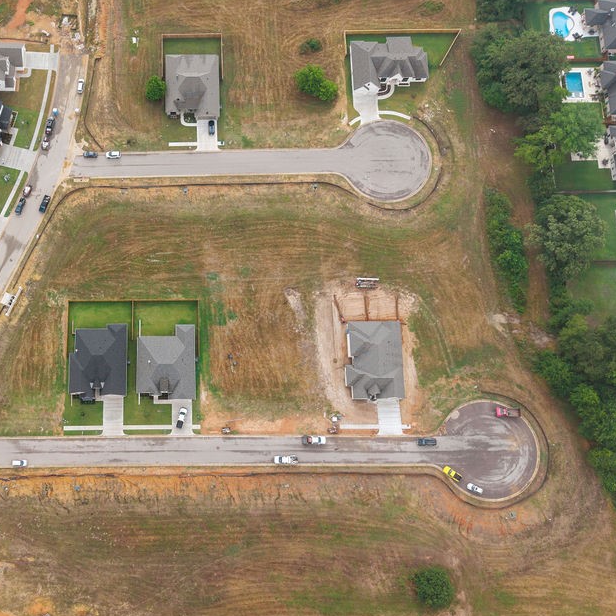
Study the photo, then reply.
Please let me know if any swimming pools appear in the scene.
Yes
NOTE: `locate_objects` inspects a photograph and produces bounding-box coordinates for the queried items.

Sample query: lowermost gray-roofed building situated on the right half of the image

[345,321,404,398]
